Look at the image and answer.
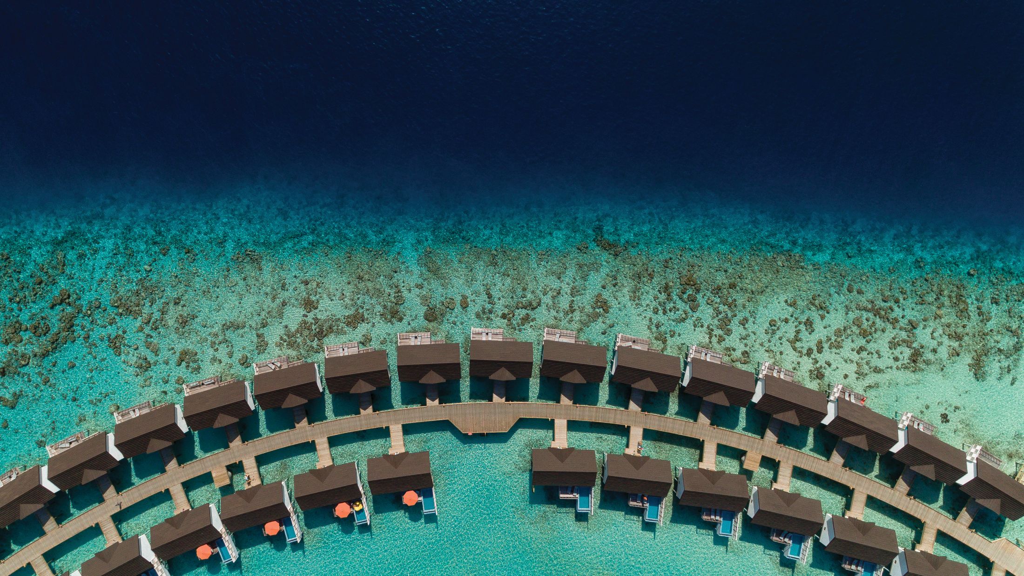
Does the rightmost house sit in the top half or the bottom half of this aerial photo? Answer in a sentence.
The rightmost house sits in the bottom half of the picture.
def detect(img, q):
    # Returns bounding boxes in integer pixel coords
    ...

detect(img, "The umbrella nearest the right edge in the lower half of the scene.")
[403,491,418,506]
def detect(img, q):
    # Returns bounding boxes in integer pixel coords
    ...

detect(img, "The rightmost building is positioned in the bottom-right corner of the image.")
[953,442,1024,522]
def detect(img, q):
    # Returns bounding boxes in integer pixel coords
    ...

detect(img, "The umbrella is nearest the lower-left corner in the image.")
[197,544,212,559]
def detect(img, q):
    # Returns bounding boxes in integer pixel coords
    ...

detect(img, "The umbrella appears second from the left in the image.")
[265,521,280,536]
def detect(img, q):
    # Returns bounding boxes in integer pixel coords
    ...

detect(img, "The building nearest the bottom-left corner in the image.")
[0,462,64,529]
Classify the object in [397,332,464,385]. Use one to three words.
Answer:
house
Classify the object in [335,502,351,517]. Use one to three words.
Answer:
umbrella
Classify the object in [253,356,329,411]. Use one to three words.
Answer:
house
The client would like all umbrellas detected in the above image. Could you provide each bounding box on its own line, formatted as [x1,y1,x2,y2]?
[265,521,280,536]
[403,491,418,506]
[335,502,351,517]
[197,544,212,559]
